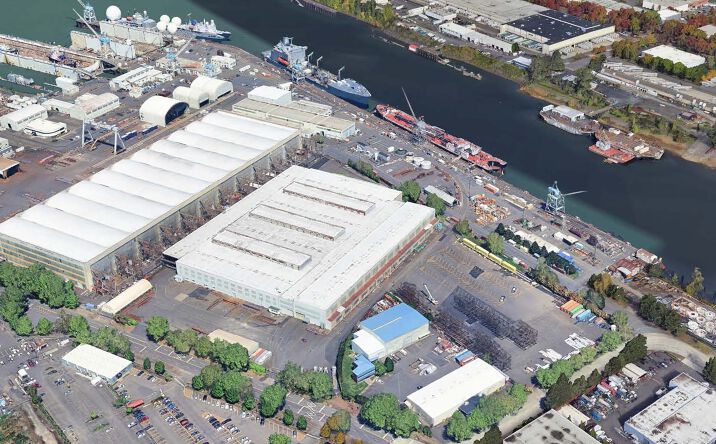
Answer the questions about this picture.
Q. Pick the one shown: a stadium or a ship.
ship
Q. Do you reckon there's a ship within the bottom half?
No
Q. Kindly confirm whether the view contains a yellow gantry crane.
No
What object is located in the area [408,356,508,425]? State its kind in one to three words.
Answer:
building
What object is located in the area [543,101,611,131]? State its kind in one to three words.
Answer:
ship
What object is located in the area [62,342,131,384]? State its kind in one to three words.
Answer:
building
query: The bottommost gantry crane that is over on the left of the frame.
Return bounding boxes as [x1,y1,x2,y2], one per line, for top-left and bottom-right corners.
[76,117,126,155]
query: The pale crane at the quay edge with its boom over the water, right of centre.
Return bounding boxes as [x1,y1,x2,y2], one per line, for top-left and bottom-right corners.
[544,175,590,220]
